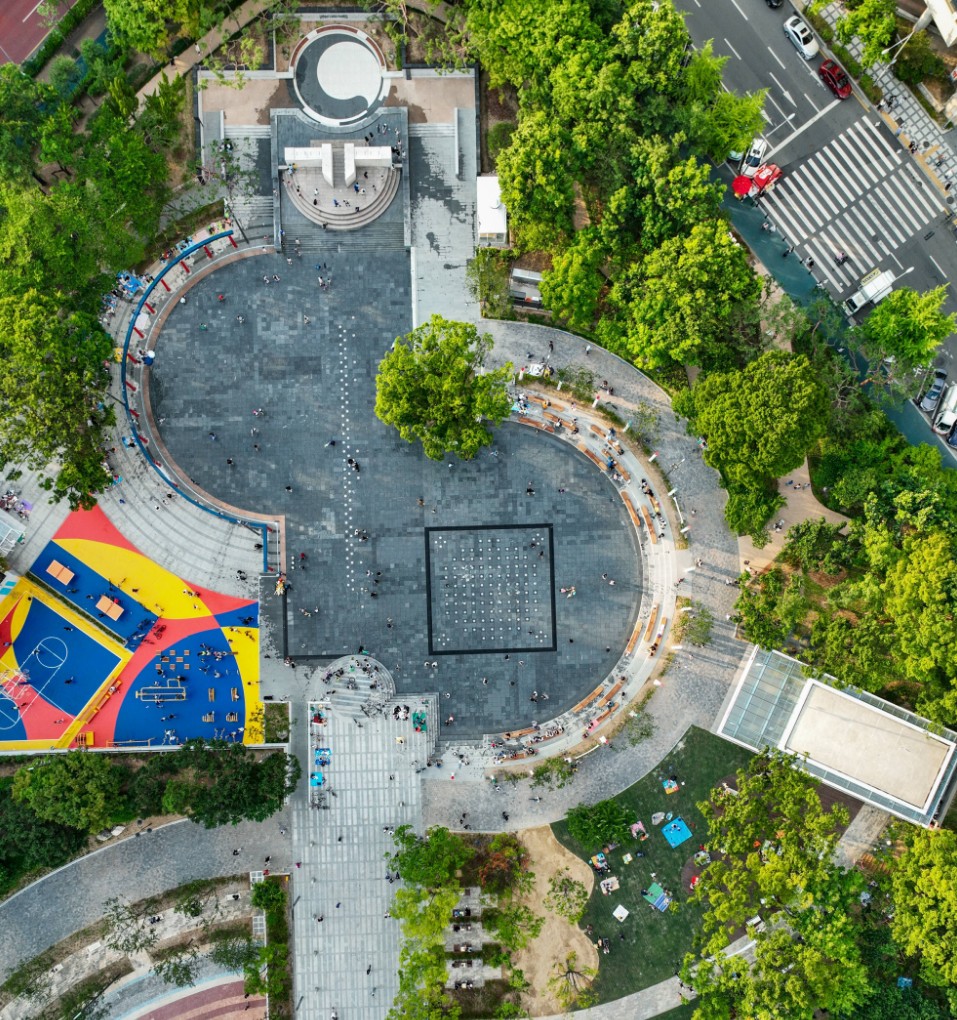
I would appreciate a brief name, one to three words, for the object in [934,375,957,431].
truck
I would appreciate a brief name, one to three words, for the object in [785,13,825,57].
car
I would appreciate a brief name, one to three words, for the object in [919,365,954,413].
car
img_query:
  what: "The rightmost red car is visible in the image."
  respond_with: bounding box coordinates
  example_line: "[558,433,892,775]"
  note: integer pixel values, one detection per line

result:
[819,56,856,98]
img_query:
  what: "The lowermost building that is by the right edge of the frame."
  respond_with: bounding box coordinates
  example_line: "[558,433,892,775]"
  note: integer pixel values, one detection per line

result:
[709,645,957,829]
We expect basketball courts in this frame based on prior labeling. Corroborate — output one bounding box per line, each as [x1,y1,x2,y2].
[0,575,132,751]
